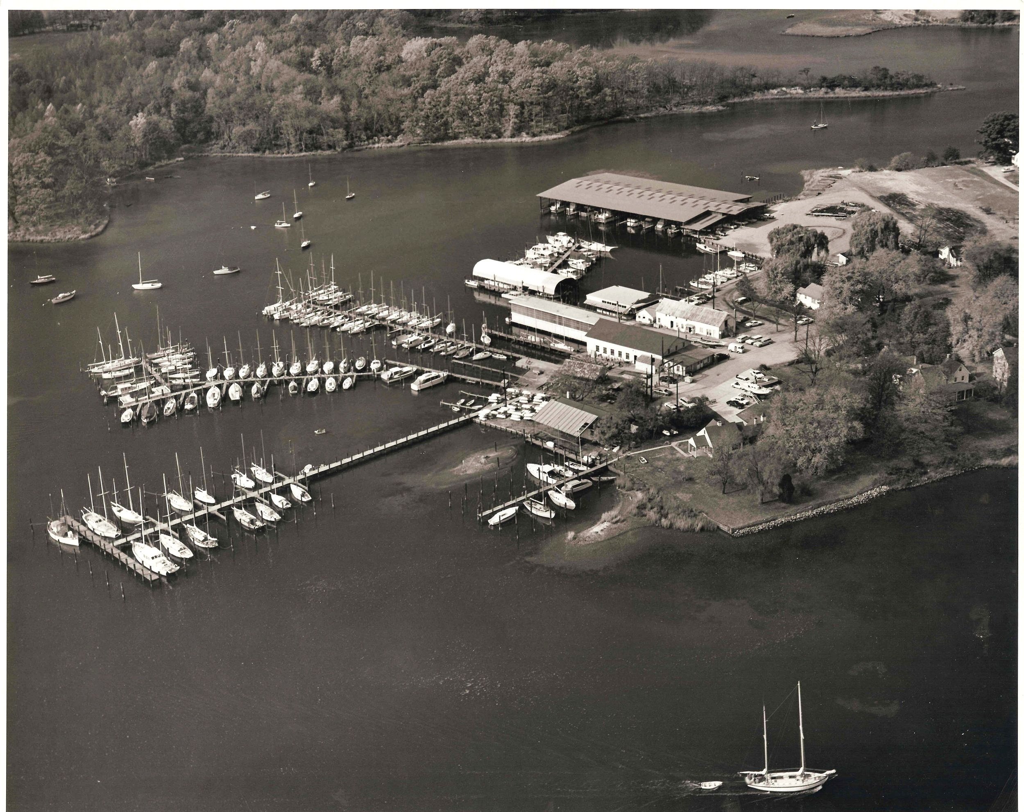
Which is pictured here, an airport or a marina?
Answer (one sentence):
The picture captures a marina.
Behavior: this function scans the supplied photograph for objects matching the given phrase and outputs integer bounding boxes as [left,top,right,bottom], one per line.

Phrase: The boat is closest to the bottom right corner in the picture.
[743,682,835,794]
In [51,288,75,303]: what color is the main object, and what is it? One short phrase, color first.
gray boat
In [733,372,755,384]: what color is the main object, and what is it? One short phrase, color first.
white vehicle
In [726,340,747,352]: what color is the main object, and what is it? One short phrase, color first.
white vehicle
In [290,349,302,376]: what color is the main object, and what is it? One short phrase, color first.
white boat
